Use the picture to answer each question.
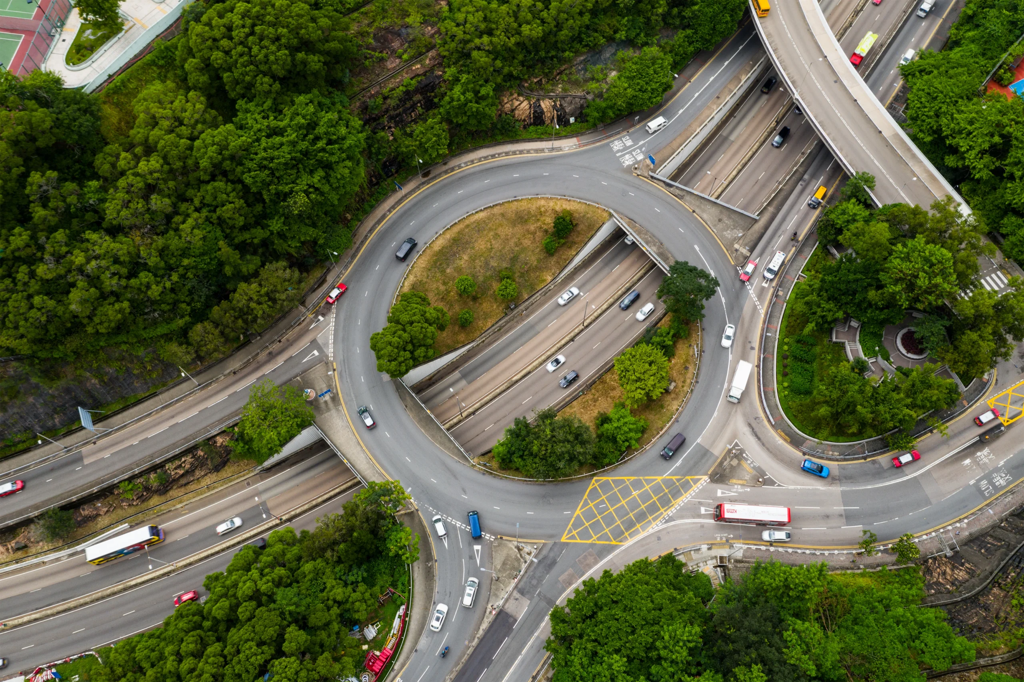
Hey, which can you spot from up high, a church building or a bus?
bus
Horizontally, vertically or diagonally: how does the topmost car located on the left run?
diagonally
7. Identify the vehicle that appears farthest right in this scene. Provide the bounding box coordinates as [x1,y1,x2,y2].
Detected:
[972,408,1001,428]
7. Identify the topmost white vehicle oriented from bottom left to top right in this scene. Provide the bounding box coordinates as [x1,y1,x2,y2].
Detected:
[914,0,936,22]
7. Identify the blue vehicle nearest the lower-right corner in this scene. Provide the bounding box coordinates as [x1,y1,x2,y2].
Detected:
[799,460,829,479]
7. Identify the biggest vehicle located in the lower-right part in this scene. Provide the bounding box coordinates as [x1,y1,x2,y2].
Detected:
[711,503,792,527]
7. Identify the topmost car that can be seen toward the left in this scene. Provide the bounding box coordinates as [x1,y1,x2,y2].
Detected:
[395,238,417,263]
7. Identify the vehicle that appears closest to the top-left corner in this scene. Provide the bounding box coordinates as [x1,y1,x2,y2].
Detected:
[325,283,350,306]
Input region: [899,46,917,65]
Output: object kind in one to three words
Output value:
vehicle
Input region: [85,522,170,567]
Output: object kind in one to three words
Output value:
bus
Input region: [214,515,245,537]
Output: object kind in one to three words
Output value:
car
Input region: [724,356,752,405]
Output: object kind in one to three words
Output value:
truck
